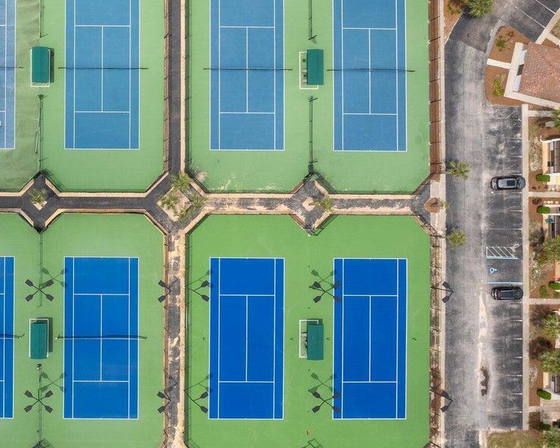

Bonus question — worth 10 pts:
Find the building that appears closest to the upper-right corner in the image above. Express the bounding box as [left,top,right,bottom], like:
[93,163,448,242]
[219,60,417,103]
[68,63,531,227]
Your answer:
[511,42,560,106]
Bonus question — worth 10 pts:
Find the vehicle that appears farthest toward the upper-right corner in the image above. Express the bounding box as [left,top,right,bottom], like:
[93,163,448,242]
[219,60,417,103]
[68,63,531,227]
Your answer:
[490,175,524,190]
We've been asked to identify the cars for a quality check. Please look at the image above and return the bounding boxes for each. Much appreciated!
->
[490,175,524,190]
[490,285,523,301]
